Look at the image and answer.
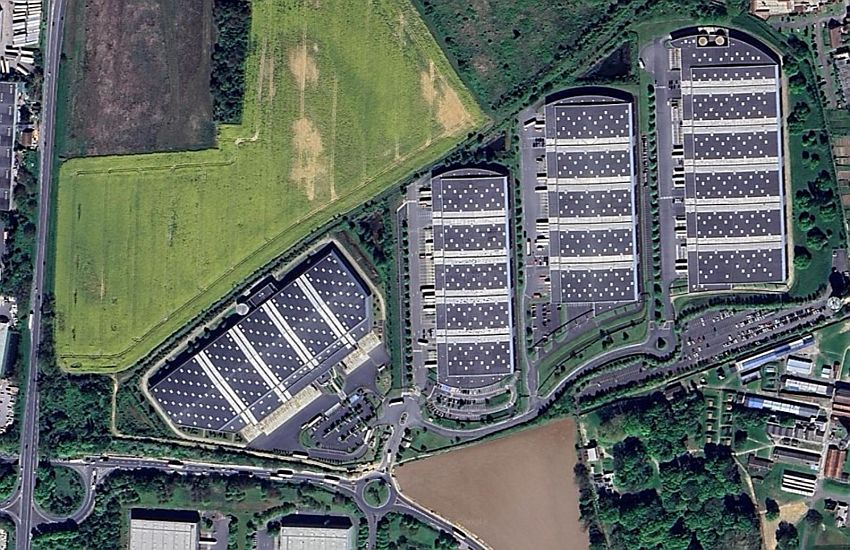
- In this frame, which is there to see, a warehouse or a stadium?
warehouse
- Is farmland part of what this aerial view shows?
Yes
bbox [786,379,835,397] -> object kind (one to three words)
shed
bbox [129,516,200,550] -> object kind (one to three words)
building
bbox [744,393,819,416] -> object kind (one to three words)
shed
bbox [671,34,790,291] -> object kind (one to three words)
warehouse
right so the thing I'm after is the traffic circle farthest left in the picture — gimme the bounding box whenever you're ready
[356,474,398,515]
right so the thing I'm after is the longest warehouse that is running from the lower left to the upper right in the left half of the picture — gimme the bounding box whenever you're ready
[150,248,374,432]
